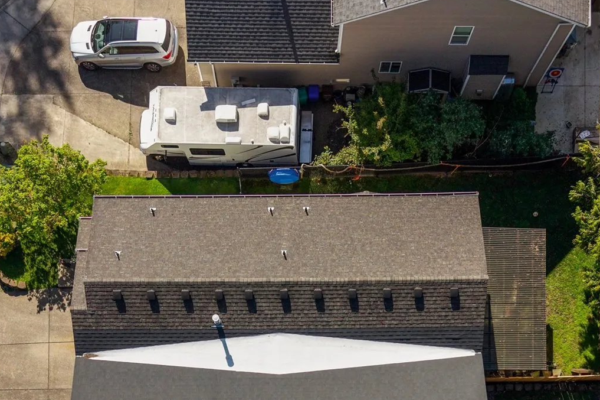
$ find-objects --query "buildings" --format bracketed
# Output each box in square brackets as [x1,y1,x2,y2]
[184,0,594,98]
[70,193,489,400]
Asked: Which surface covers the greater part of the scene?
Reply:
buildings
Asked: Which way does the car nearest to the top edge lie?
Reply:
from left to right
